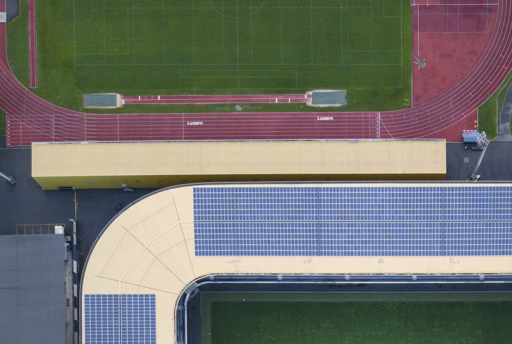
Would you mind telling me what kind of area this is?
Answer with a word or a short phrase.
sports ground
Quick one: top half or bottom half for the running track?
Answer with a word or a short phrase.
top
